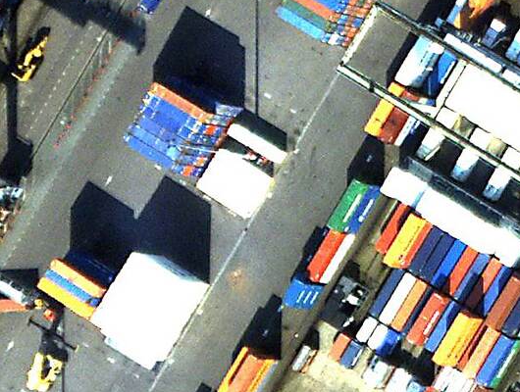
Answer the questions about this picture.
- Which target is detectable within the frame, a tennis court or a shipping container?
shipping container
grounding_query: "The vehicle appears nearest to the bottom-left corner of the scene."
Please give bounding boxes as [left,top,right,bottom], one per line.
[17,328,73,392]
